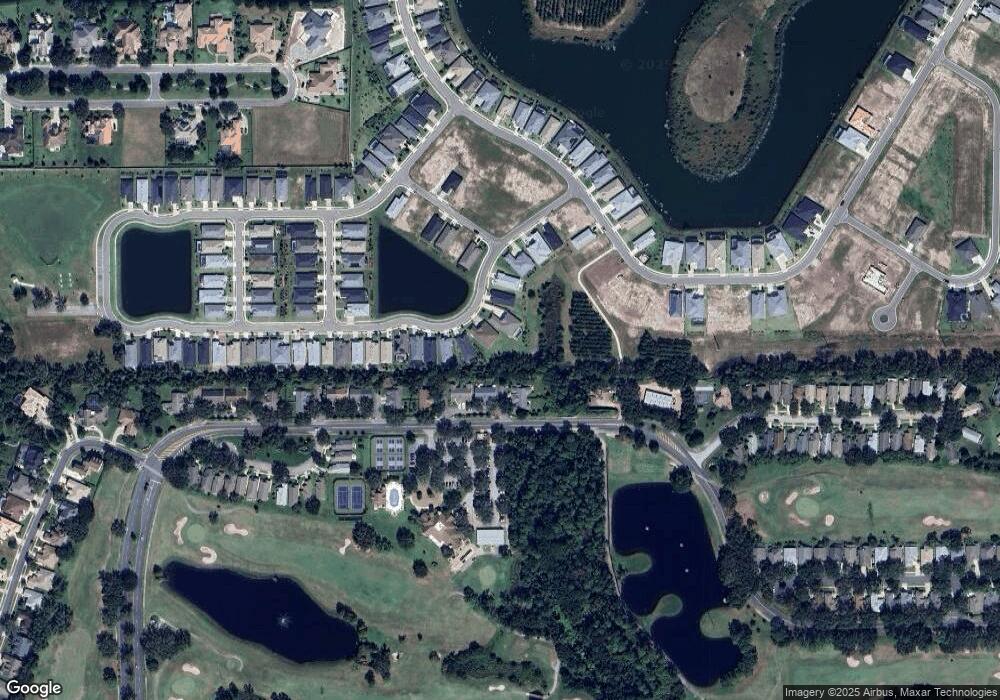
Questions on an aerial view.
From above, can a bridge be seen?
No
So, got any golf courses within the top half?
No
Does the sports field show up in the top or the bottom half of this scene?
top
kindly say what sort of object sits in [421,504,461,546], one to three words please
building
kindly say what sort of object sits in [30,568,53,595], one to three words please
house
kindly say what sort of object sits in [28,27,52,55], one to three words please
house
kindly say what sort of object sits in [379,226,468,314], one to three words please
pond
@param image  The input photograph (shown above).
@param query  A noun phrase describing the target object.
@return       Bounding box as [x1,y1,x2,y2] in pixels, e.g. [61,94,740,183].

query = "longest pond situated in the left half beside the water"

[163,562,357,662]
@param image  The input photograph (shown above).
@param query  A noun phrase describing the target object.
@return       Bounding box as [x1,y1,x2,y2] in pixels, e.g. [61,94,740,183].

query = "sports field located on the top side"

[0,183,104,265]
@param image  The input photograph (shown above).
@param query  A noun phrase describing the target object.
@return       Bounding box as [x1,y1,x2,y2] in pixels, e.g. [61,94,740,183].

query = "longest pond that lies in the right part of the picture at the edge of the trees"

[611,483,740,685]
